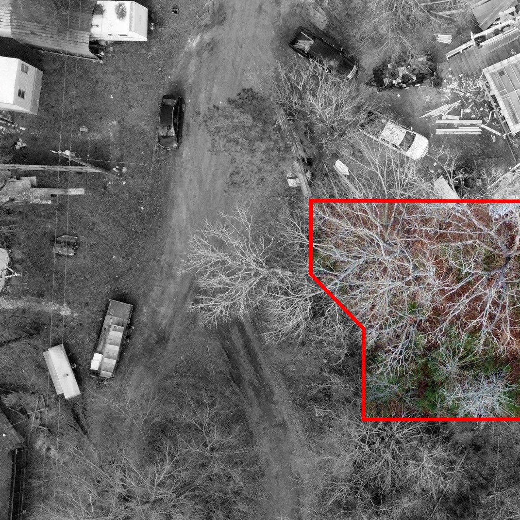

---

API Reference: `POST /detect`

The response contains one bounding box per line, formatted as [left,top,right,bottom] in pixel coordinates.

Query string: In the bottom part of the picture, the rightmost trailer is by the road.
[89,297,136,386]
